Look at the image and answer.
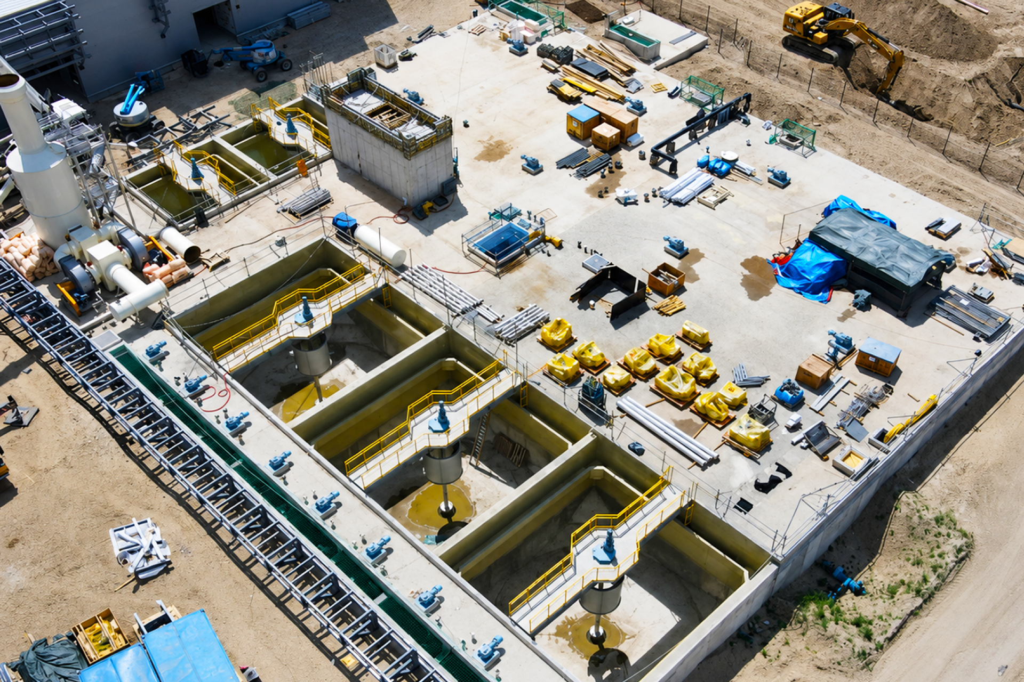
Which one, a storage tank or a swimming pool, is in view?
storage tank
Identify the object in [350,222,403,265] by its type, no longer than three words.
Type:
storage tank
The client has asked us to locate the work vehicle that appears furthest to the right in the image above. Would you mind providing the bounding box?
[778,0,910,96]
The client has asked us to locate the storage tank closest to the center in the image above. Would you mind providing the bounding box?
[464,206,548,277]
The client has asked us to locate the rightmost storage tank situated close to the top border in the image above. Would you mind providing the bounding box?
[604,23,660,63]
